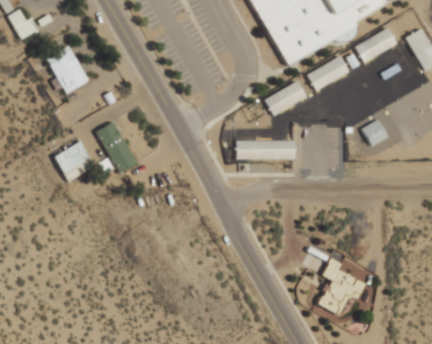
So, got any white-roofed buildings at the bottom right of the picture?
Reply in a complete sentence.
Yes, a white-roofed building shows up at the bottom right of the picture.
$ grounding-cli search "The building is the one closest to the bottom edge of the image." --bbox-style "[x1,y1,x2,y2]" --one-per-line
[316,259,366,316]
